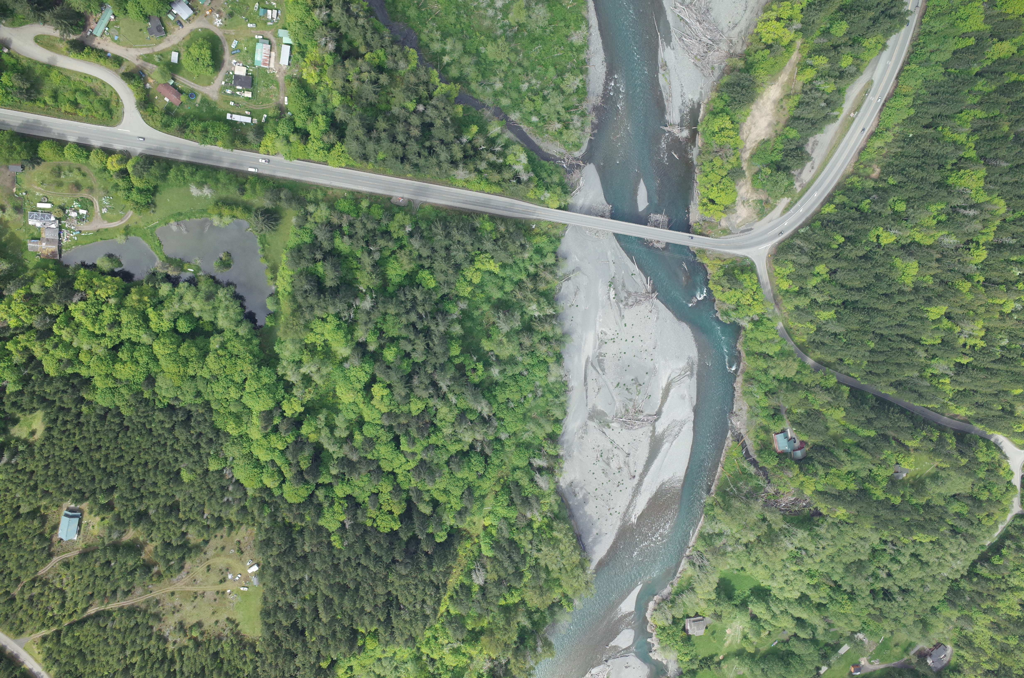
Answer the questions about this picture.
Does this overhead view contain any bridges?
Yes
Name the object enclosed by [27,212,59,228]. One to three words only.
house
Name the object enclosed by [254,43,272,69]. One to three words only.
barn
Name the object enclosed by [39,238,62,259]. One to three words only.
house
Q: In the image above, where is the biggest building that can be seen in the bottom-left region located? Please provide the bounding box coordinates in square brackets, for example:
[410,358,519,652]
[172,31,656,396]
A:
[59,516,82,538]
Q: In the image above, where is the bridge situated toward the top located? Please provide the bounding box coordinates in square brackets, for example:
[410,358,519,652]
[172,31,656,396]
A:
[564,211,695,248]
